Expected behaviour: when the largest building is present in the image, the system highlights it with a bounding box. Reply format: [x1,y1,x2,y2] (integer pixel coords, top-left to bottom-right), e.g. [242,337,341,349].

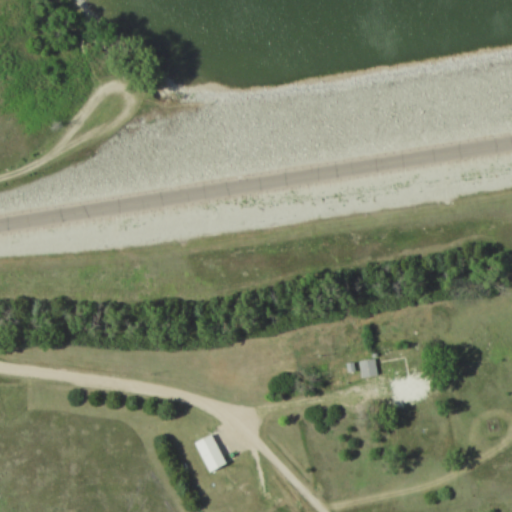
[194,434,228,473]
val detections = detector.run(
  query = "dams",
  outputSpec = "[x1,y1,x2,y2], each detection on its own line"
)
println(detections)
[0,44,512,258]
